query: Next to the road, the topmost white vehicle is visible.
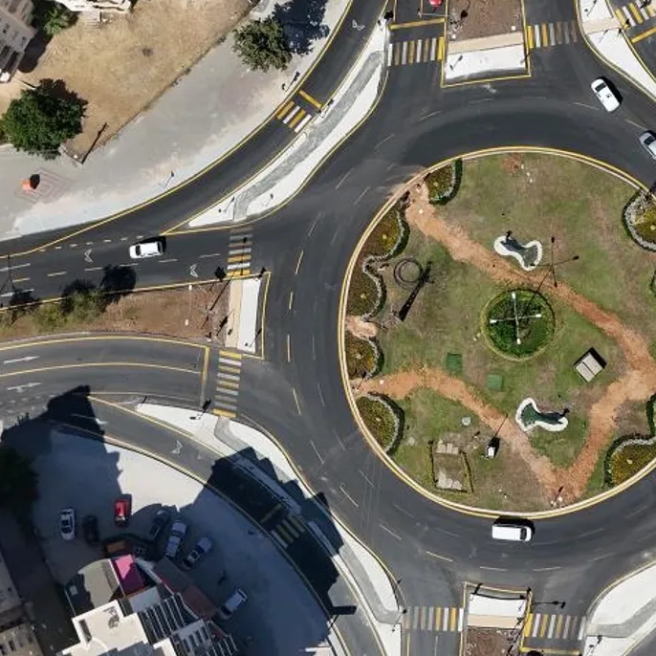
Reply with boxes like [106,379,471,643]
[593,78,620,112]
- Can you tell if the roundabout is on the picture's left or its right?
right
